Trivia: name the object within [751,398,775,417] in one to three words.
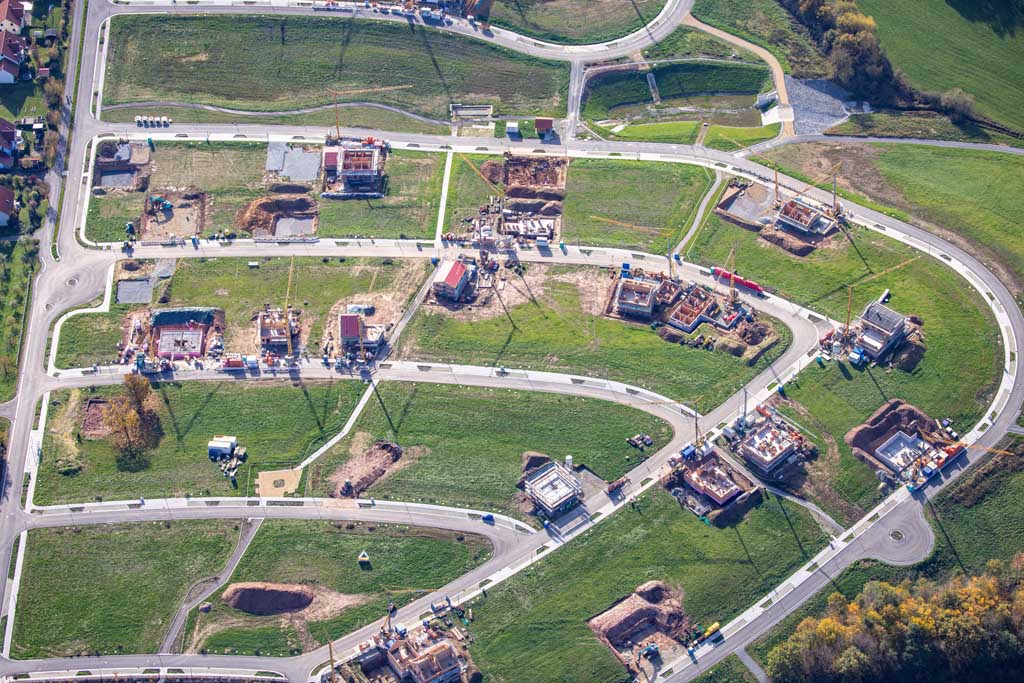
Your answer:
vehicle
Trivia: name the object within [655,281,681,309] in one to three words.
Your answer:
house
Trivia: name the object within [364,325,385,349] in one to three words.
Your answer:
house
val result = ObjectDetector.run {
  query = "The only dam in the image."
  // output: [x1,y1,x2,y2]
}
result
[751,93,794,128]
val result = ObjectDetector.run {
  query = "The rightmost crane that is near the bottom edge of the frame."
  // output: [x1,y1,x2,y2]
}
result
[374,590,439,662]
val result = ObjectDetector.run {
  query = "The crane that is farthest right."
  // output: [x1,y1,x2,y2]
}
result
[916,422,1014,485]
